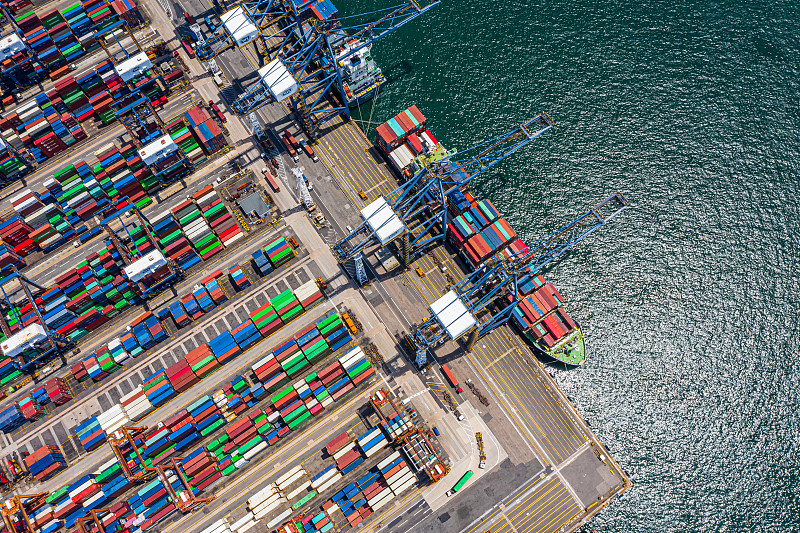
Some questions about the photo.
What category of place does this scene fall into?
port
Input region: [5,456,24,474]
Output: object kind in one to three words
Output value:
work vehicle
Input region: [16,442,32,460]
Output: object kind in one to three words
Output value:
work vehicle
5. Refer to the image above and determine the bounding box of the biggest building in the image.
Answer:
[238,190,272,221]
